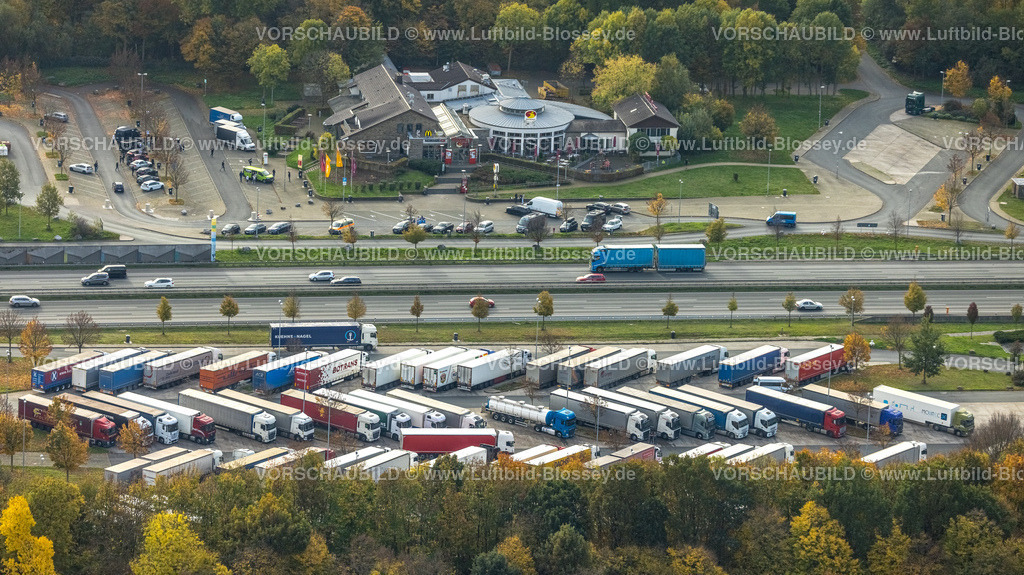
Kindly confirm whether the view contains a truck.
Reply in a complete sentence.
Yes, there's a truck down there.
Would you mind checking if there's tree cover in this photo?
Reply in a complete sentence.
Yes, the picture does contain tree cover.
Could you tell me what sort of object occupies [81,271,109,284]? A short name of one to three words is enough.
vehicle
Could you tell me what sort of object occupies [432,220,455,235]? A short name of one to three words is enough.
vehicle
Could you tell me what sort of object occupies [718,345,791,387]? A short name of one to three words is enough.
truck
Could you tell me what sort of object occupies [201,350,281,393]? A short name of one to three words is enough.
truck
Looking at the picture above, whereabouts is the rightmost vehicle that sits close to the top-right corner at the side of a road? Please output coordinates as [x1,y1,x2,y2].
[902,92,931,114]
